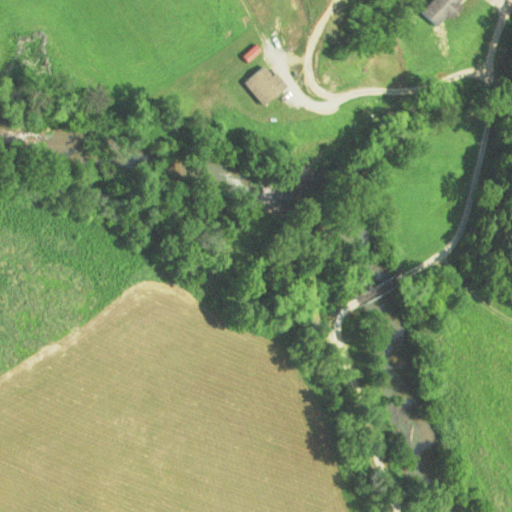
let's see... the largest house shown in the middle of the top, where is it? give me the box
[246,66,284,104]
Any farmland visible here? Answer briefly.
Yes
